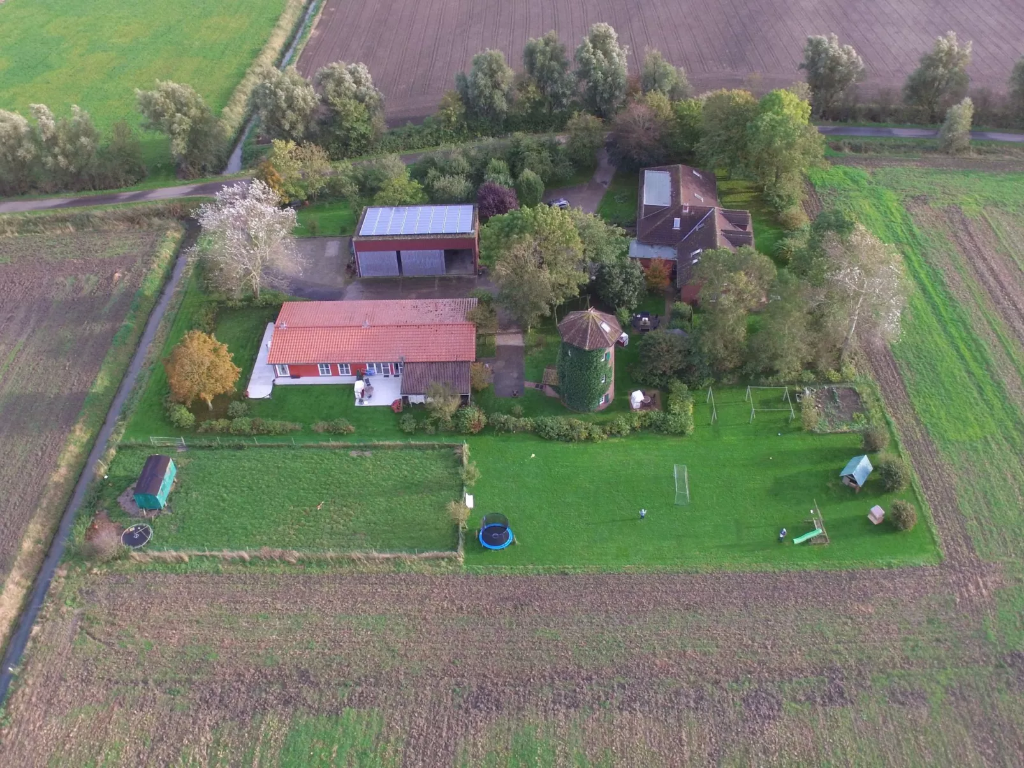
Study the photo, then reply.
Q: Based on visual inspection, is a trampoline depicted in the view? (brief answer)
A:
Yes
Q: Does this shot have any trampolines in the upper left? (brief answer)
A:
No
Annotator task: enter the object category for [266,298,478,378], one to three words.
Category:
house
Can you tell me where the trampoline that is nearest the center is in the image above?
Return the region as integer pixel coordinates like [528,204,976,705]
[480,514,513,556]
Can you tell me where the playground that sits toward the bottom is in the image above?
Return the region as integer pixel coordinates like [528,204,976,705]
[805,499,830,543]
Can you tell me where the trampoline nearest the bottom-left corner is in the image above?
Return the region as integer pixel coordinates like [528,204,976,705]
[122,522,156,553]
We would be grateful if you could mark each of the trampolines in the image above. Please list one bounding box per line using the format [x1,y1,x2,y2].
[122,522,156,553]
[480,514,513,556]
